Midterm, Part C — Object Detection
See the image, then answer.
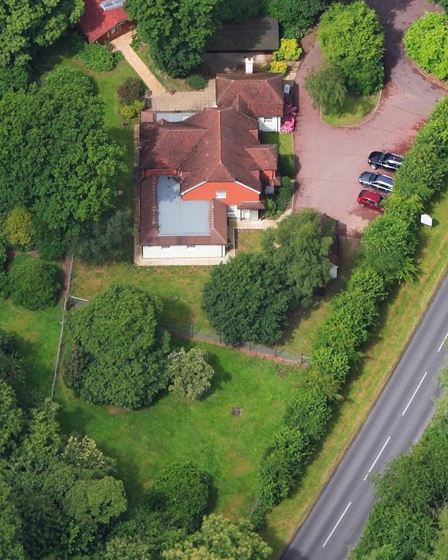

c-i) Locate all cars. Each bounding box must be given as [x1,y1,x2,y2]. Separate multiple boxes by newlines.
[368,154,411,178]
[359,172,402,198]
[356,194,388,212]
